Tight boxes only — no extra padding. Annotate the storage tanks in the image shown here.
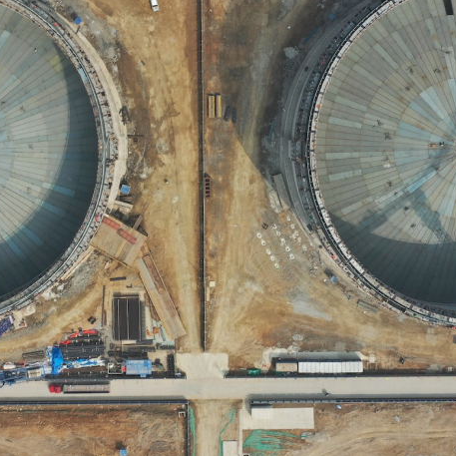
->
[0,0,126,315]
[280,0,456,328]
